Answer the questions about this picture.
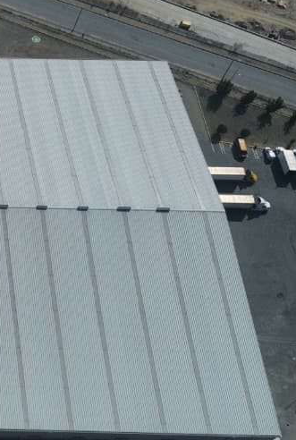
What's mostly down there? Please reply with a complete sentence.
The largest share of the image is taken up by buildings.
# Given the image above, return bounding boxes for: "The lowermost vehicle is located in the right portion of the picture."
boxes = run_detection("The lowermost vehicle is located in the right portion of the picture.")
[219,195,275,214]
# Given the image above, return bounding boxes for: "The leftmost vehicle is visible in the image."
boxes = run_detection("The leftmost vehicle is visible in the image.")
[179,17,195,30]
